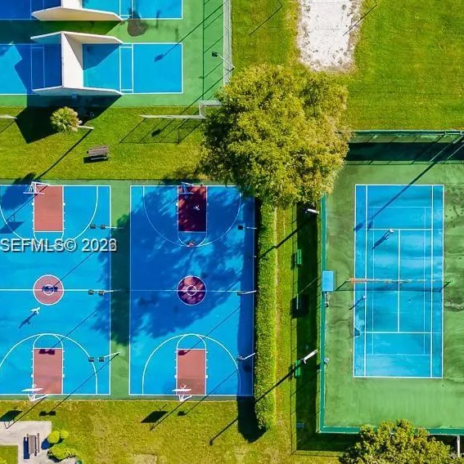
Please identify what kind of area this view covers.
sports ground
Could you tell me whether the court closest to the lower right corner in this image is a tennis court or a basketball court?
tennis court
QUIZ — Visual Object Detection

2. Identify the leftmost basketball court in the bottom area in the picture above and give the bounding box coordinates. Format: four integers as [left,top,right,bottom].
[0,185,111,396]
